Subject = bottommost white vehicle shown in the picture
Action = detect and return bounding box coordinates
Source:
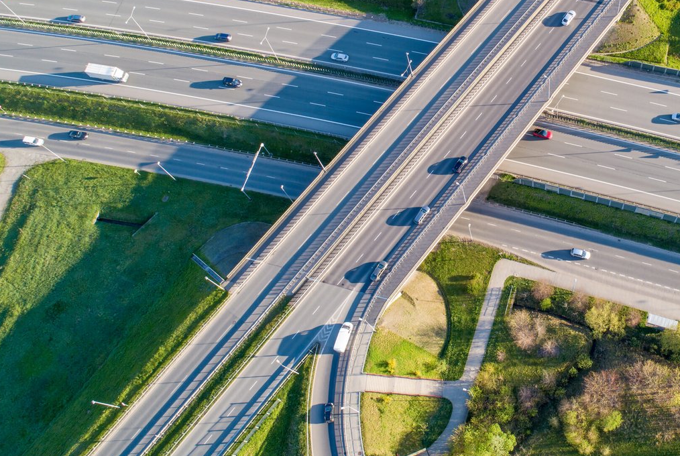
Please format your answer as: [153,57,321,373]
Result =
[331,322,352,354]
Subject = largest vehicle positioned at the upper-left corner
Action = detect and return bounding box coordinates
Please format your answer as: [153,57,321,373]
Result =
[83,61,127,81]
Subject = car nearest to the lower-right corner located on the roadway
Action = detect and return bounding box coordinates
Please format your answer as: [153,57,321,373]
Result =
[570,247,590,260]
